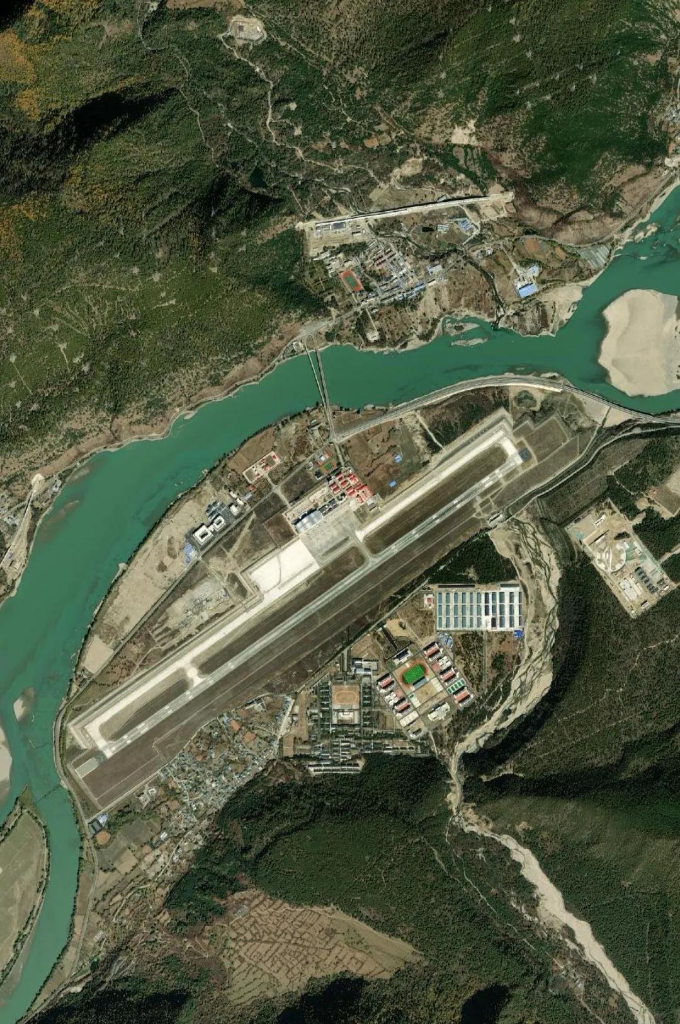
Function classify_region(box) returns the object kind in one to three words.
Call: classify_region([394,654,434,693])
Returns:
sports field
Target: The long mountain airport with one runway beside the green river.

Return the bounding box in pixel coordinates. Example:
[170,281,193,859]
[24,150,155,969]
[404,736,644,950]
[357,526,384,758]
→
[69,410,598,811]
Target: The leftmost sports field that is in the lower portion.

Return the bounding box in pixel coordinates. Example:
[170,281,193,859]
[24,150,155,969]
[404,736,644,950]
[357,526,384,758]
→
[332,685,360,709]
